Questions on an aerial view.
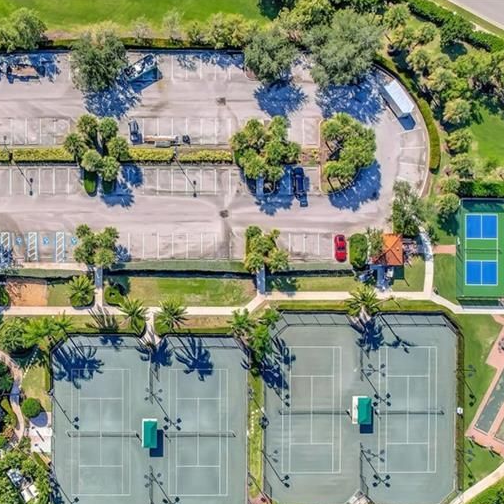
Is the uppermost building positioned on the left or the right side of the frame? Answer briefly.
right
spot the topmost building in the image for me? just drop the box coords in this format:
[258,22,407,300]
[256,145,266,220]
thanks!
[369,234,404,265]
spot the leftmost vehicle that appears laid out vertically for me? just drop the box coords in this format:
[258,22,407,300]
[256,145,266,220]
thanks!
[128,119,140,147]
